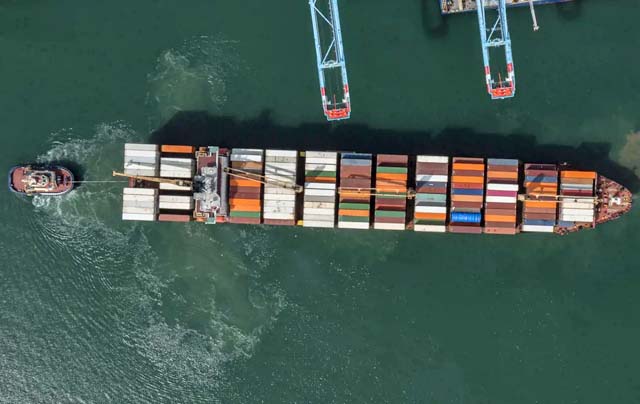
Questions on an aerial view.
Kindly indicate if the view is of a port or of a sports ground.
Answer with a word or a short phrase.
port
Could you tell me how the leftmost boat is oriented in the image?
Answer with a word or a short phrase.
horizontally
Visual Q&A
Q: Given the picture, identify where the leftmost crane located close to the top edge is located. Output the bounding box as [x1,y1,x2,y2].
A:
[309,0,351,122]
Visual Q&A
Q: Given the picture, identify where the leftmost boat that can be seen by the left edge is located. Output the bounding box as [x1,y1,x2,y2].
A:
[6,164,74,196]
